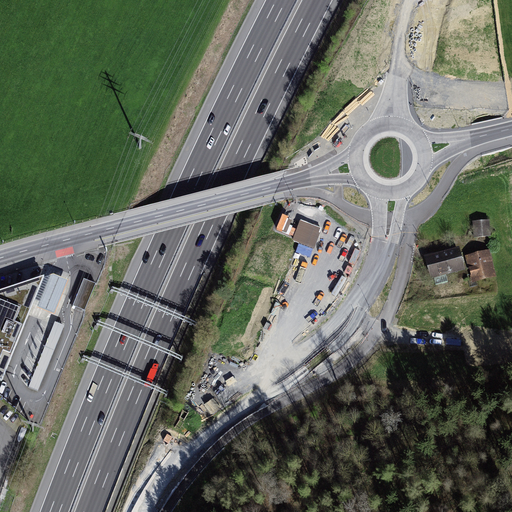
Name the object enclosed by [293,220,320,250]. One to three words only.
building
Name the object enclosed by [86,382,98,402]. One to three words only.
vehicle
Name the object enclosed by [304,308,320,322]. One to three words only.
vehicle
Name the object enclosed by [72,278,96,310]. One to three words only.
shed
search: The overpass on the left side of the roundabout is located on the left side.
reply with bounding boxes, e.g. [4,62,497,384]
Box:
[100,168,292,248]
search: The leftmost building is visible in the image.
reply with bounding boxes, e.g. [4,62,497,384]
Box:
[0,275,44,384]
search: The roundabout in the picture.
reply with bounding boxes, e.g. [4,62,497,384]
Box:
[348,116,432,200]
